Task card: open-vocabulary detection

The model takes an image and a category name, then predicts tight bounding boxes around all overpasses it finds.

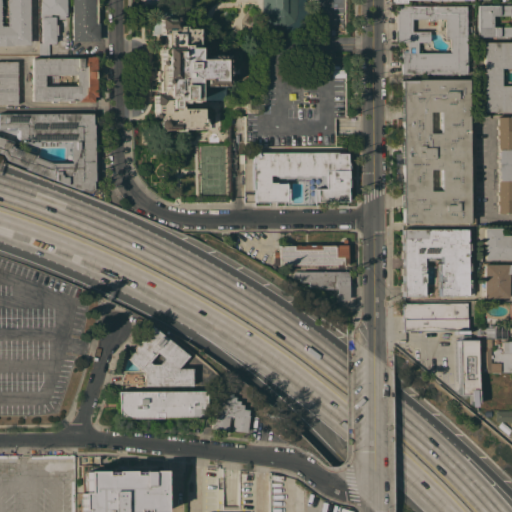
[334,328,395,512]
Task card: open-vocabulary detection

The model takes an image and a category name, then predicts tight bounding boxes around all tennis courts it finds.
[199,146,230,196]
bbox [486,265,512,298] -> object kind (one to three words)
house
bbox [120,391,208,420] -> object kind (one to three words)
building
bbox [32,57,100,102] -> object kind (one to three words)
building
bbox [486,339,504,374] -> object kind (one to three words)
house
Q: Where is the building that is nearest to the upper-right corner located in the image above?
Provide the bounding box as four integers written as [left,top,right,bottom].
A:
[478,6,512,39]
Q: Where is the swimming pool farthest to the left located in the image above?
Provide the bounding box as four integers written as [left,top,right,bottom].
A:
[38,147,67,163]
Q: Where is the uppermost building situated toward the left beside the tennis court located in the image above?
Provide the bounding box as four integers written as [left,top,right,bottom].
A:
[152,20,232,130]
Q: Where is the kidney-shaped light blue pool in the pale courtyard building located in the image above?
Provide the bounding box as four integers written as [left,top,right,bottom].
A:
[432,34,448,52]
